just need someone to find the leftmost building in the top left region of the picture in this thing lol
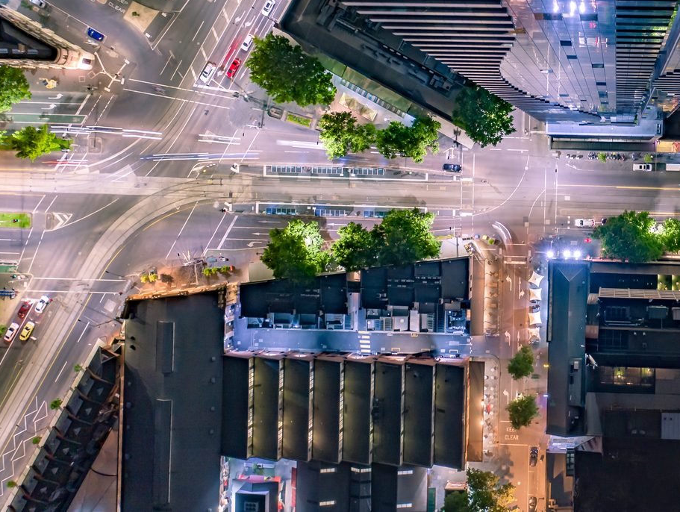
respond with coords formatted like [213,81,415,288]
[0,0,114,66]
